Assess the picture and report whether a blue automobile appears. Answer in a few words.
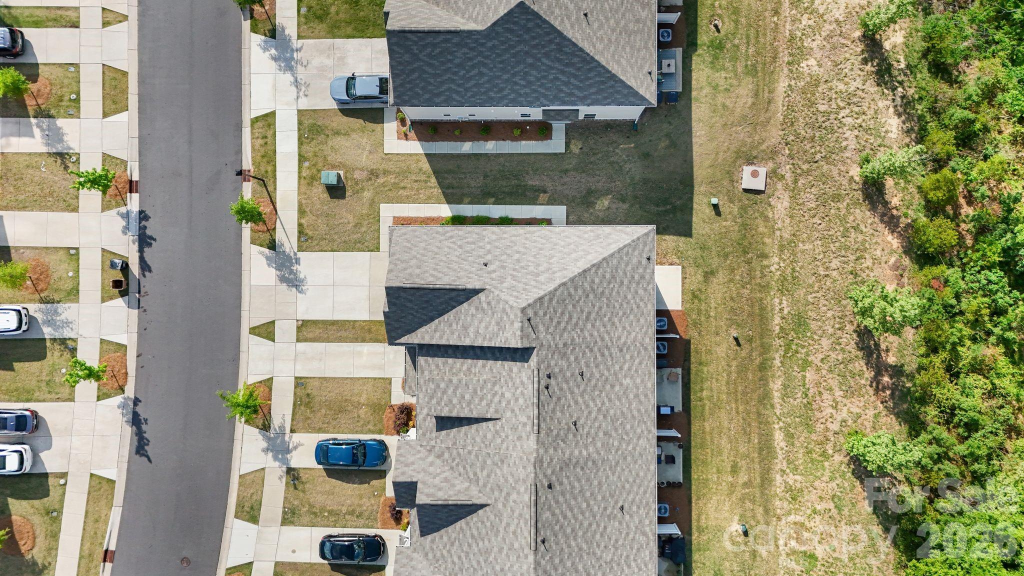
Yes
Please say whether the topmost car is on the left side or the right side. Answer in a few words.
left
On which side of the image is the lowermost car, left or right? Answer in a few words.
left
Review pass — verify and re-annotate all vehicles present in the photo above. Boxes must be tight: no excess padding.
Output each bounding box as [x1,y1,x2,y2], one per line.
[315,438,389,471]
[0,406,43,434]
[329,71,386,104]
[0,306,34,334]
[0,28,28,59]
[319,531,387,566]
[0,443,37,473]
